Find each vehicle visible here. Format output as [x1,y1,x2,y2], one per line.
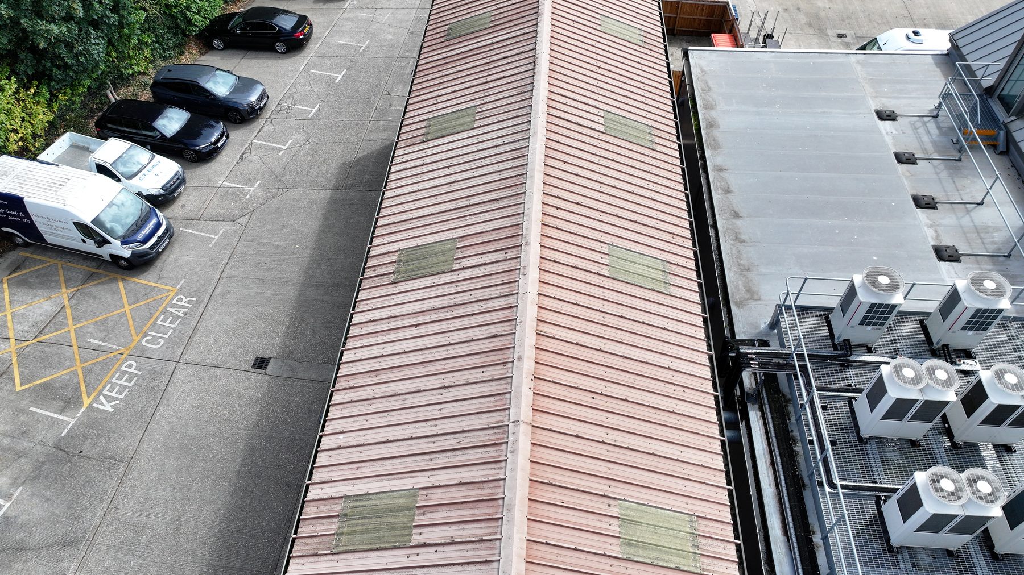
[154,58,274,125]
[97,95,234,163]
[35,134,191,208]
[833,26,952,54]
[198,5,313,54]
[0,152,179,271]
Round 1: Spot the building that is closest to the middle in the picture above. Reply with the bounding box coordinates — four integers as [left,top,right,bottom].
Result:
[281,0,748,575]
